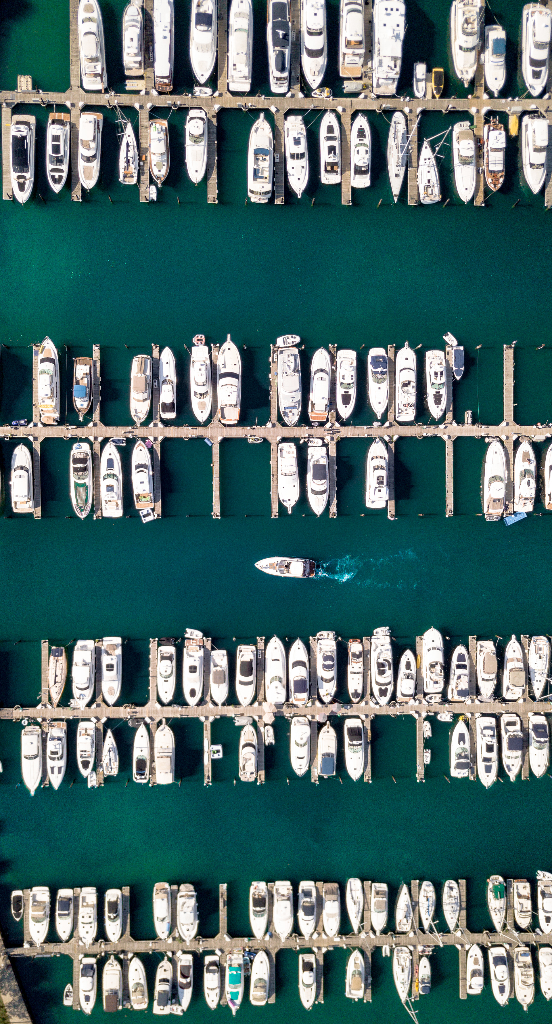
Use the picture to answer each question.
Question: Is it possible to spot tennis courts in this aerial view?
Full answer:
No, no tennis court is visible in the scene.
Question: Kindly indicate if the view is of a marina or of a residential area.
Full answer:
The picture captures a marina.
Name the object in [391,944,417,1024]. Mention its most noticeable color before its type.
white boat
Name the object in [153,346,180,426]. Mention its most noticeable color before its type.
white boat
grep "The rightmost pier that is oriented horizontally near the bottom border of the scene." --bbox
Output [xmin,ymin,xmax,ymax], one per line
[57,878,552,1009]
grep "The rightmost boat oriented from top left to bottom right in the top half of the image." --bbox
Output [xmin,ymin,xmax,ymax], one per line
[442,330,457,346]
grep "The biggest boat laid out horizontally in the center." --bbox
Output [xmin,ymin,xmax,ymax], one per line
[255,556,316,578]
